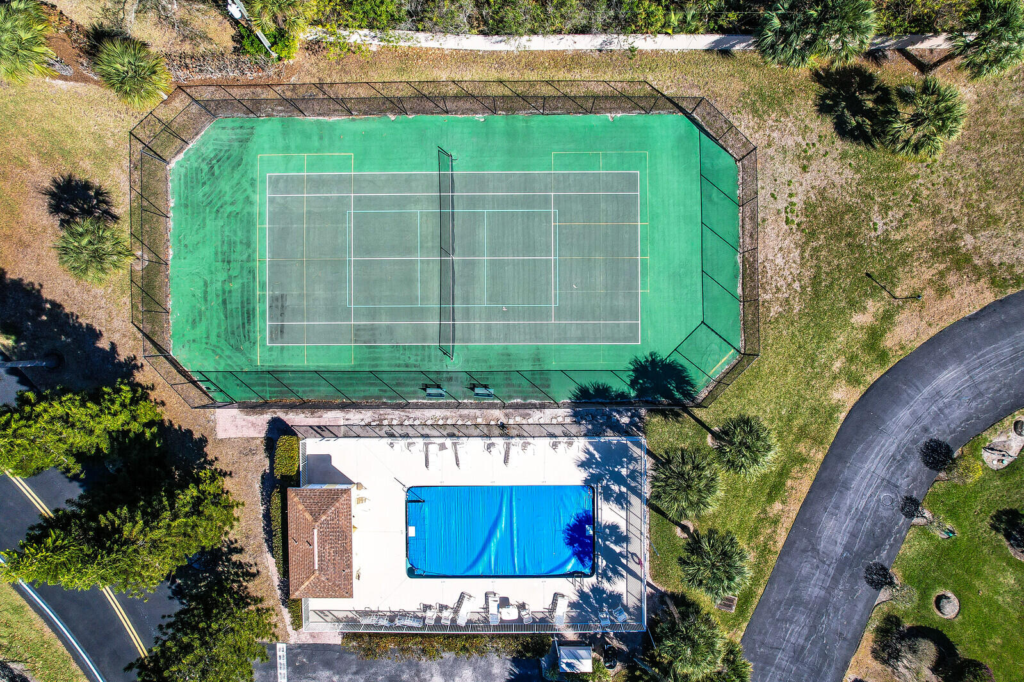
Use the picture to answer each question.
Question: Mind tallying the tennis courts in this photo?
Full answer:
In total, there is 1 tennis court in the scene.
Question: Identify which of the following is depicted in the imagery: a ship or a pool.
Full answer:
I can see a pool in this picture.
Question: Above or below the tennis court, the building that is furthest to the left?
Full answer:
The building that is furthest to the left is located below the tennis court in this view.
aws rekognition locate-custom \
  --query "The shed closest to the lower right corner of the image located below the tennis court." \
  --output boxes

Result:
[558,638,593,671]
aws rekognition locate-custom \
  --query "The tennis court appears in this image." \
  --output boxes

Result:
[169,114,742,401]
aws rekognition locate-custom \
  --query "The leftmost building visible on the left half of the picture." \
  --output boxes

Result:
[285,483,357,601]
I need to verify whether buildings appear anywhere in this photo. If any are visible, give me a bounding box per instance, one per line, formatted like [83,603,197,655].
[558,638,593,671]
[285,483,357,601]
